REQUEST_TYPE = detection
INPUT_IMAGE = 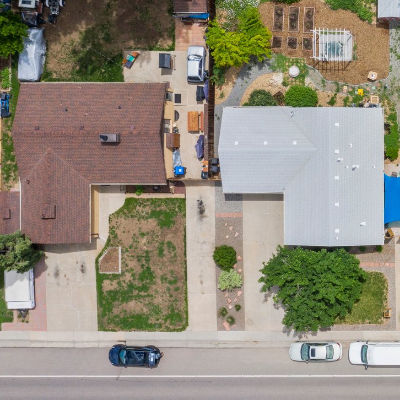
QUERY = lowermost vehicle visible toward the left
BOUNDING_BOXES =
[111,344,165,368]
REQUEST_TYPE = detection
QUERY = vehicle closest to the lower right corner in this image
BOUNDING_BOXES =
[350,339,400,367]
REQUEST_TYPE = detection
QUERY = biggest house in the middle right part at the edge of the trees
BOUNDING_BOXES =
[217,106,385,247]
